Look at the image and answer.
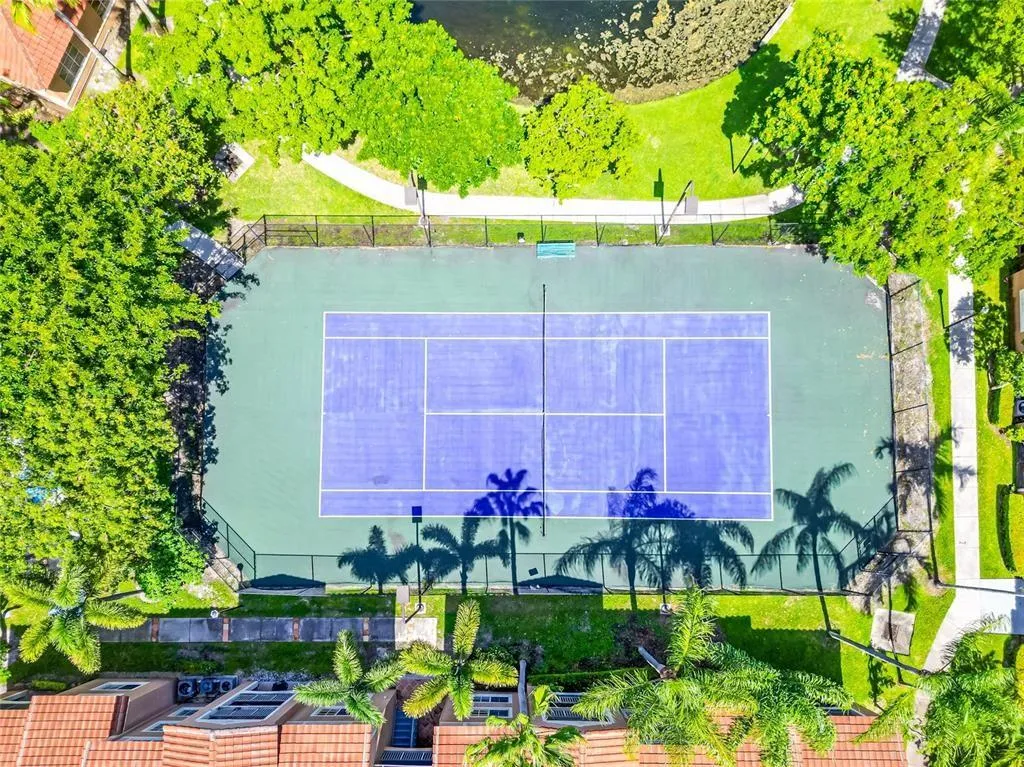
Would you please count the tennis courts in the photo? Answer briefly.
1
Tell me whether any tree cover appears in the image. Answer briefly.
Yes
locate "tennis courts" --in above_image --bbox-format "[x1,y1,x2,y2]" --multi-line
[203,247,898,591]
